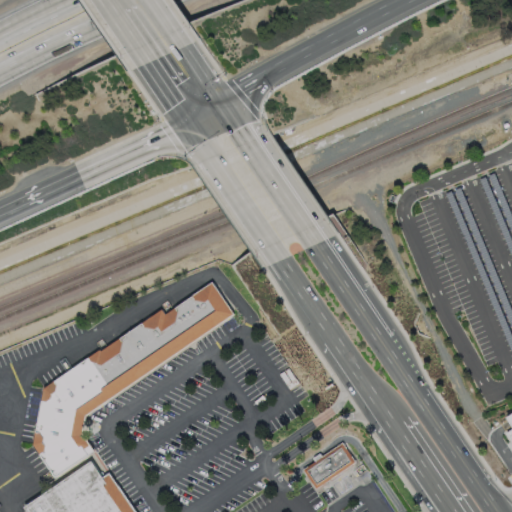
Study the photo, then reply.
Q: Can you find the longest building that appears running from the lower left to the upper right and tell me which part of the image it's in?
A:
bottom left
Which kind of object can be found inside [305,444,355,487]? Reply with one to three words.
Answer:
building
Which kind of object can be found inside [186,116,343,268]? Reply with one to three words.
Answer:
overpass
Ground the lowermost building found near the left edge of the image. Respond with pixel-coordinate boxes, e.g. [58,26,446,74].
[25,462,137,512]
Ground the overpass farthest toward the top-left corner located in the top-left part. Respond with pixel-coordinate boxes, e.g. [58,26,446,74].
[80,0,194,73]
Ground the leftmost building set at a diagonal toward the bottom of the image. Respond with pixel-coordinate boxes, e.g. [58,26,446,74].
[35,281,234,480]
